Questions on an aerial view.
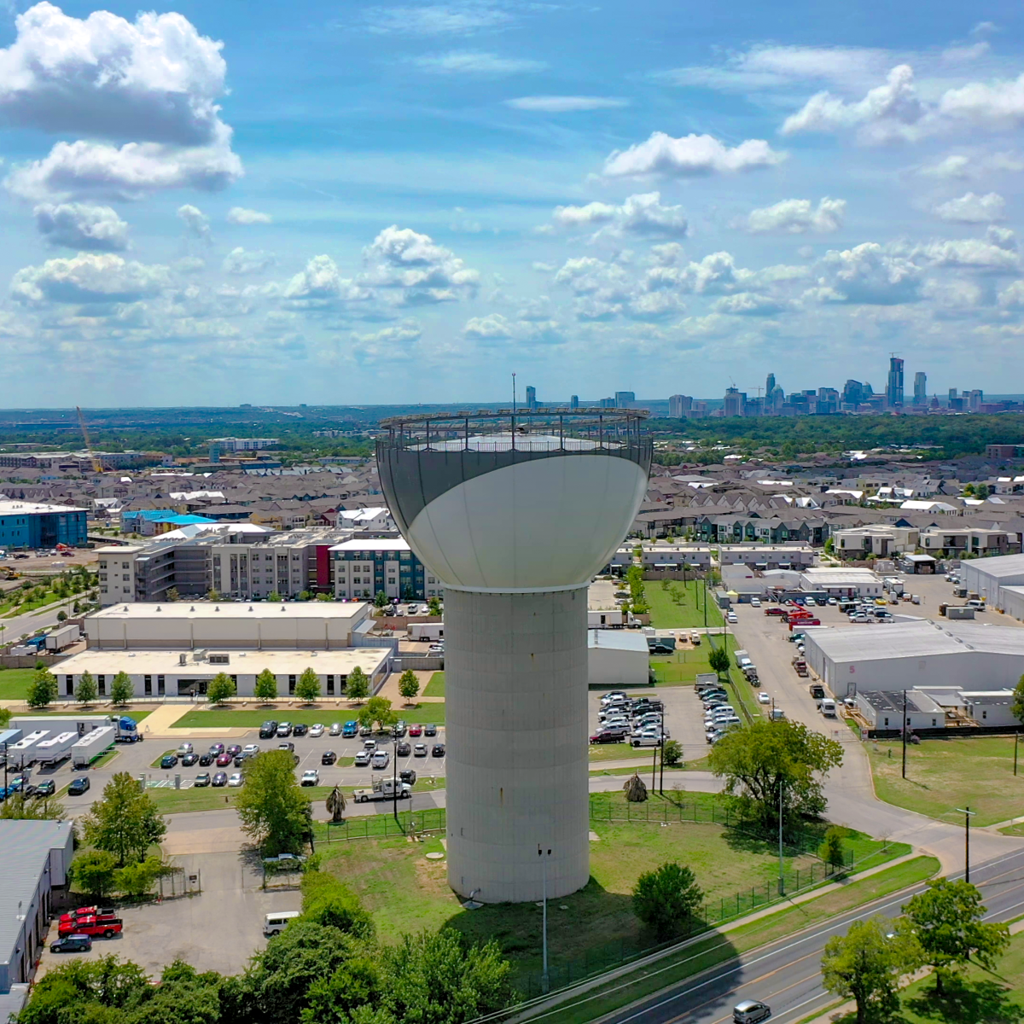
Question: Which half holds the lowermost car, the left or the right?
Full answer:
The lowermost car appears in the right half of the scene.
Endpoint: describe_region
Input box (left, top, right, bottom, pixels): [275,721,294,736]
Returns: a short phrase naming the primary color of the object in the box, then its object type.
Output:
gray vehicle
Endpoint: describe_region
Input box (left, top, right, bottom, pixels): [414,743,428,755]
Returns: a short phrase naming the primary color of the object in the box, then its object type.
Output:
gray vehicle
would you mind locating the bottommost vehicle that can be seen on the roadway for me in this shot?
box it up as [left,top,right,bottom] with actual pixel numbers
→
[728,994,775,1022]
